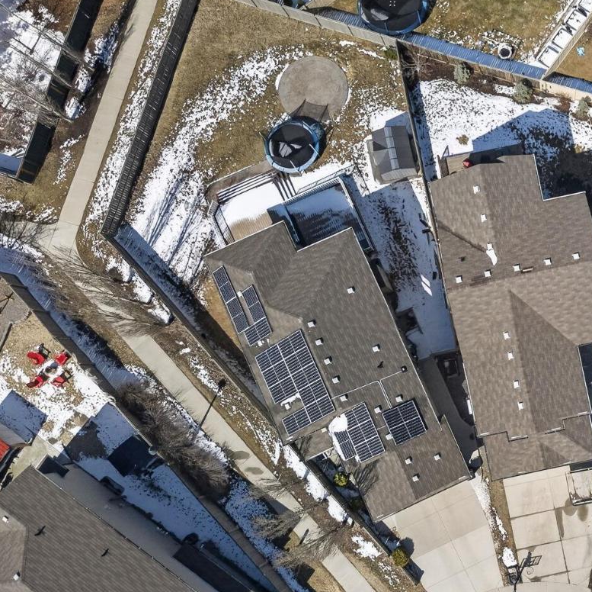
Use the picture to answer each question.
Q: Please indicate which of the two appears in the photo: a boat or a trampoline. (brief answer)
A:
trampoline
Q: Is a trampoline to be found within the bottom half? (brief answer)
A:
No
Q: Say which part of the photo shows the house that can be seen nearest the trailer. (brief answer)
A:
right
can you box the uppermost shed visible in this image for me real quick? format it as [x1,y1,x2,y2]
[369,126,416,182]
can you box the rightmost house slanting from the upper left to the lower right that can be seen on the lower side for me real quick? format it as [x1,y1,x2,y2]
[204,220,473,522]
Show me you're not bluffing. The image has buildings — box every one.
[204,220,473,522]
[369,126,416,182]
[0,463,269,592]
[429,154,592,480]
